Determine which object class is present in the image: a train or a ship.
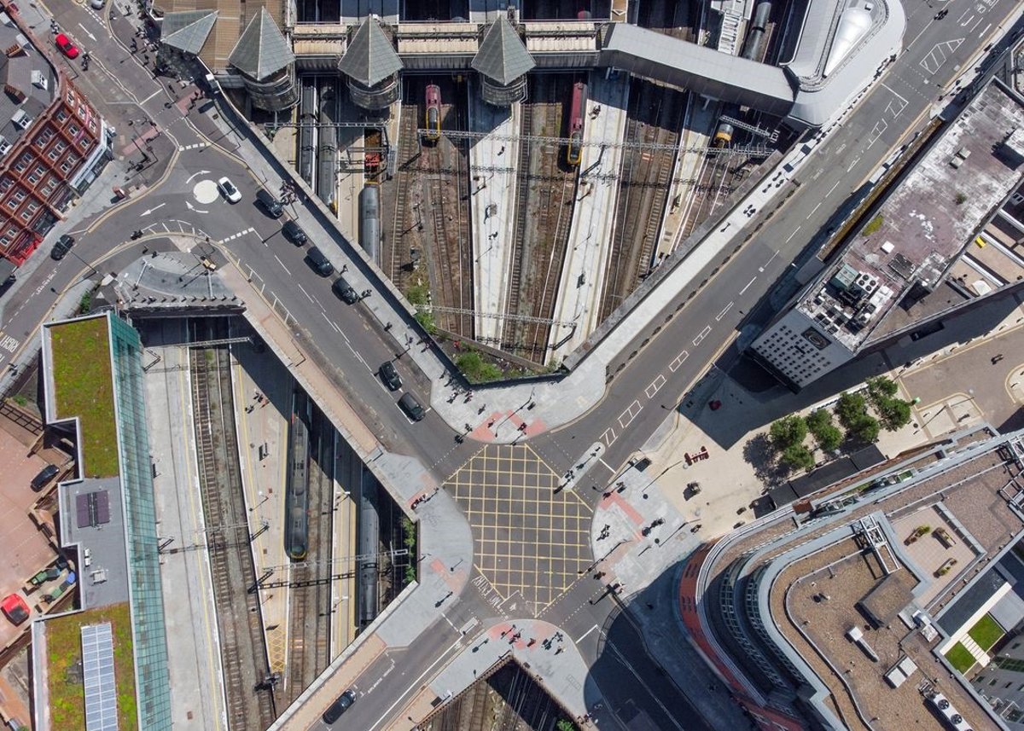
train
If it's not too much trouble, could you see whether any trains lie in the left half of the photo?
Yes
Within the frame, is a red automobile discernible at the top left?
Yes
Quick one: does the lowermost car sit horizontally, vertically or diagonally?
diagonally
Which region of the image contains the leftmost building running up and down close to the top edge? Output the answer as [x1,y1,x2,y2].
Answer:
[0,0,114,275]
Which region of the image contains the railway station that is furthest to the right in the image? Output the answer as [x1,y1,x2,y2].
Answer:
[269,0,733,664]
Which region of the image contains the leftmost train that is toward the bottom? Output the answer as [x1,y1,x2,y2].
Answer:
[290,379,313,560]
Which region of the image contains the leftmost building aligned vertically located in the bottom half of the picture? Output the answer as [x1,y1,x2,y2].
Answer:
[30,311,175,731]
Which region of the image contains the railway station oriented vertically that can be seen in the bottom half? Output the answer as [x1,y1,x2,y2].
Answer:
[128,311,360,731]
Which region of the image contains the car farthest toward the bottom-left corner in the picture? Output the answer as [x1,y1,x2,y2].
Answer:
[4,594,29,625]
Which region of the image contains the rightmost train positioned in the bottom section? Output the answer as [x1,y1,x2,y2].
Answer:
[356,502,381,643]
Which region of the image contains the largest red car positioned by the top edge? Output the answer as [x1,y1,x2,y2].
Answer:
[56,36,78,58]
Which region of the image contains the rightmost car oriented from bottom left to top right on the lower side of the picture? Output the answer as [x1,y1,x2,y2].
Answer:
[320,689,357,726]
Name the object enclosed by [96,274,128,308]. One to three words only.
shed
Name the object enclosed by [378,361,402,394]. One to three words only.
car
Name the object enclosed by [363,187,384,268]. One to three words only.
train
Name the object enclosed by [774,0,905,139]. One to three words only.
building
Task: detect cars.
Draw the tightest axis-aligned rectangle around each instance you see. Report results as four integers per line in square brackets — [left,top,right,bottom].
[4,594,29,625]
[218,177,241,203]
[93,0,106,6]
[56,36,78,58]
[320,689,357,726]
[258,190,282,217]
[399,392,426,424]
[332,277,359,305]
[306,247,333,275]
[49,233,77,264]
[378,361,402,394]
[280,219,306,247]
[28,462,64,494]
